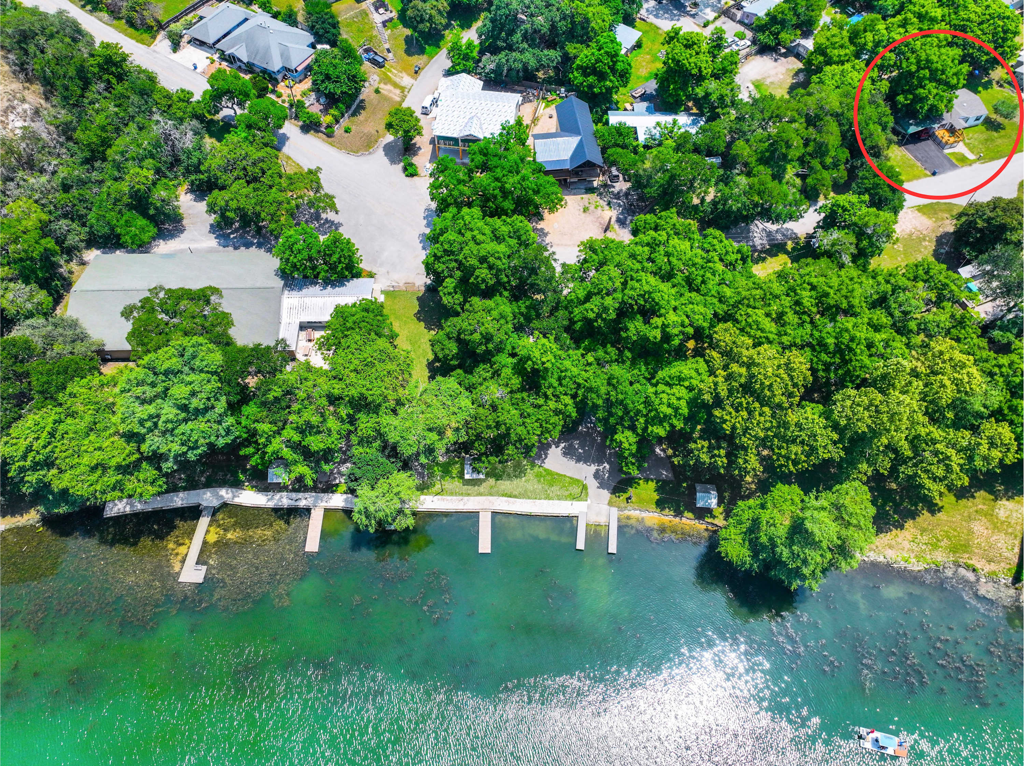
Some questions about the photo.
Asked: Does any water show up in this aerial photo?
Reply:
Yes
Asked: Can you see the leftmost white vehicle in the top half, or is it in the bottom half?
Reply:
top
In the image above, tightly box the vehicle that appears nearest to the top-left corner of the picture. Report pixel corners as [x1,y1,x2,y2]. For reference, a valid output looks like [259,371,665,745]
[365,51,389,68]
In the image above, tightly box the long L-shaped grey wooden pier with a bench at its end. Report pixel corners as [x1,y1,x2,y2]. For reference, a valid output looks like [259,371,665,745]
[178,507,217,584]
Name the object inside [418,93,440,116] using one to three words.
vehicle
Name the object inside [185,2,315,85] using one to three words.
house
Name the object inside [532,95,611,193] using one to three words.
house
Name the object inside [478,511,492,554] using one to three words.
pier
